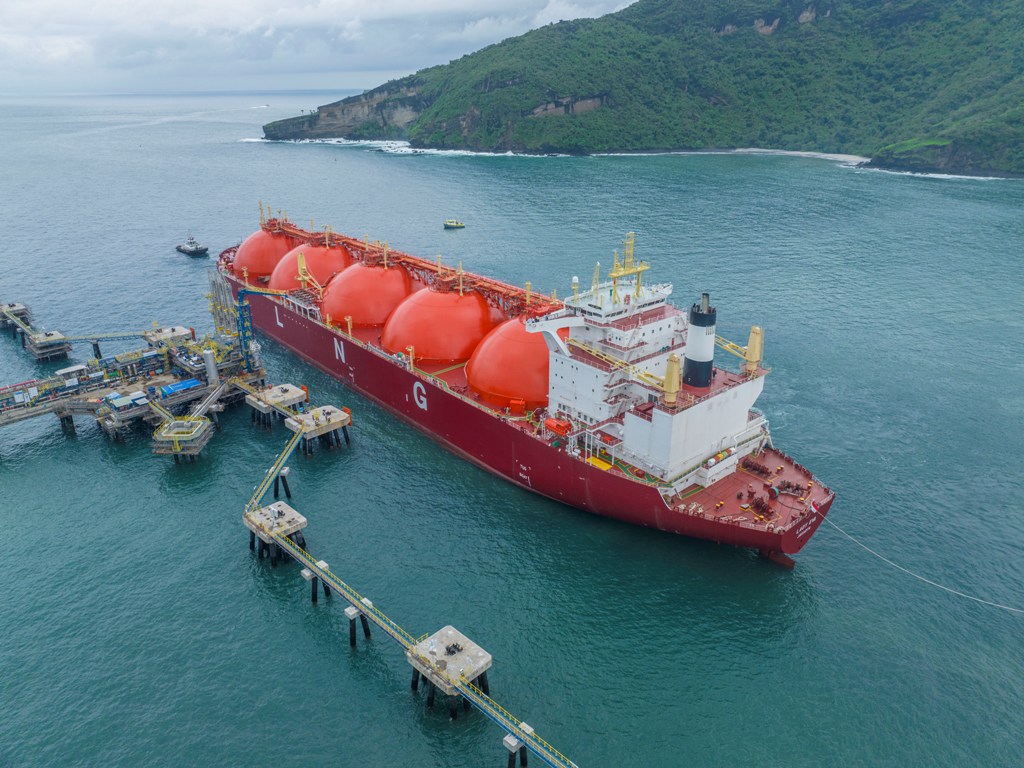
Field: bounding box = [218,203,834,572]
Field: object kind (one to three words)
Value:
ship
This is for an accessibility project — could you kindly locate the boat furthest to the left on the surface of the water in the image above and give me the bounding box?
[174,235,206,255]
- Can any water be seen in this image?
Yes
